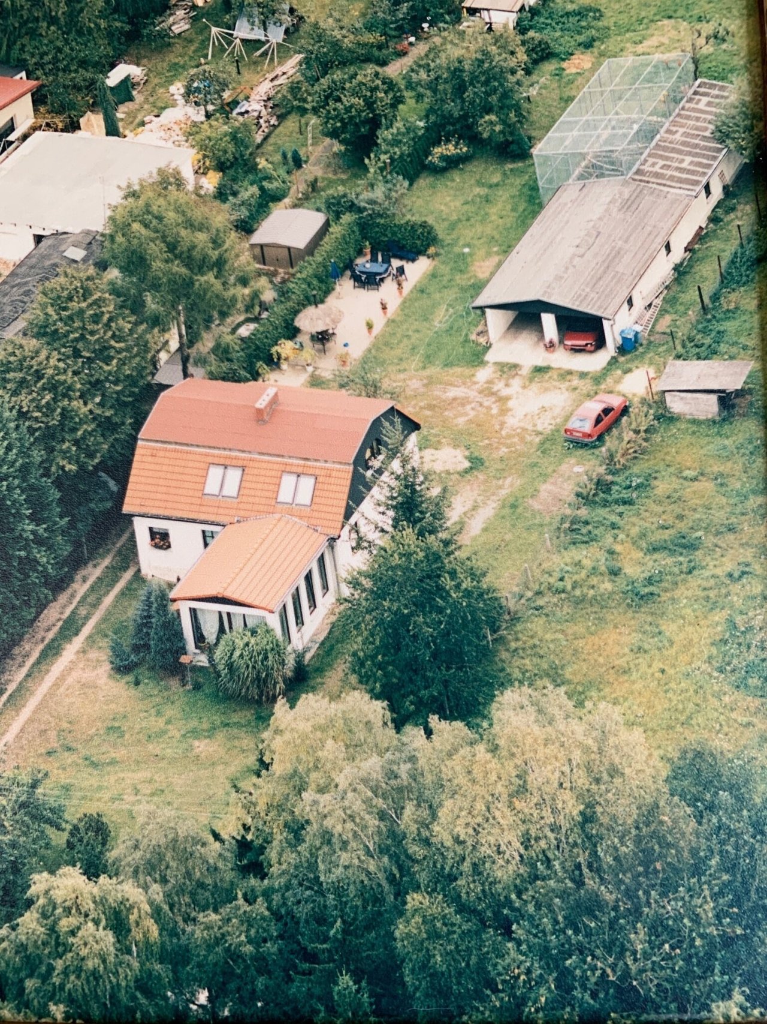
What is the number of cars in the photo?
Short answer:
2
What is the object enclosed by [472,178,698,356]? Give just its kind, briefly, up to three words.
building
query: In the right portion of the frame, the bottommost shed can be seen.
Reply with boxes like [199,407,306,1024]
[658,361,753,418]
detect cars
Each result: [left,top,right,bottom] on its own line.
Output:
[570,321,607,351]
[566,392,630,446]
